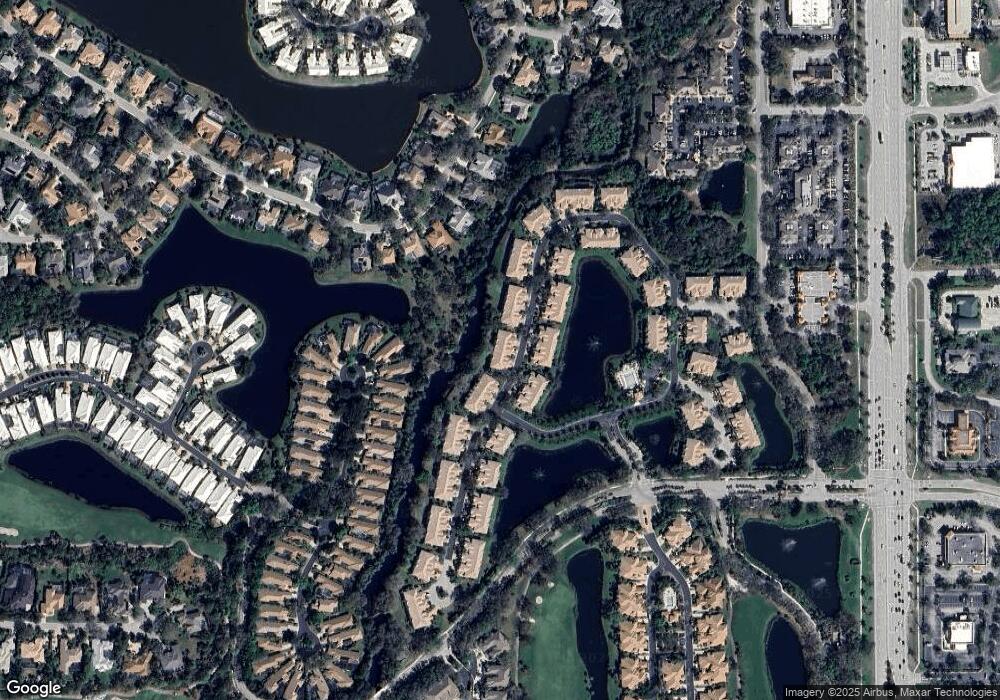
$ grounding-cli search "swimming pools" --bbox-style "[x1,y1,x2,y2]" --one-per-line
[663,588,677,609]
[618,366,640,390]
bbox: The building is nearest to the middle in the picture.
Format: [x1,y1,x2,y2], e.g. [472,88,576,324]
[488,327,521,372]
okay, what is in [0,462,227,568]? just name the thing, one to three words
golf course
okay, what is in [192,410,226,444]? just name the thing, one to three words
house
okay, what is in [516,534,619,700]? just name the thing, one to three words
golf course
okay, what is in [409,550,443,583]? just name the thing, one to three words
building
